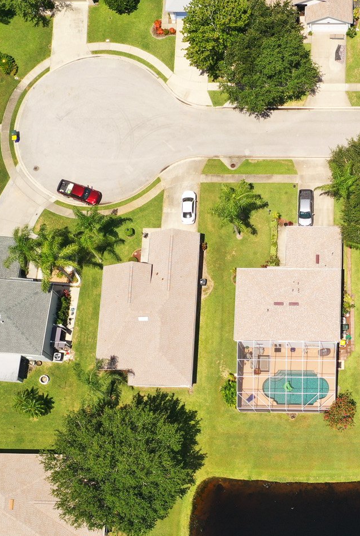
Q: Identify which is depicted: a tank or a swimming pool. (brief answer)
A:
swimming pool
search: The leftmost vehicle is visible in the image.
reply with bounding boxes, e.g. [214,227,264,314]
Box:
[53,176,101,204]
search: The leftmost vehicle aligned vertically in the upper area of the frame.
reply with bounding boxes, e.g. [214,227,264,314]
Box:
[179,188,195,223]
